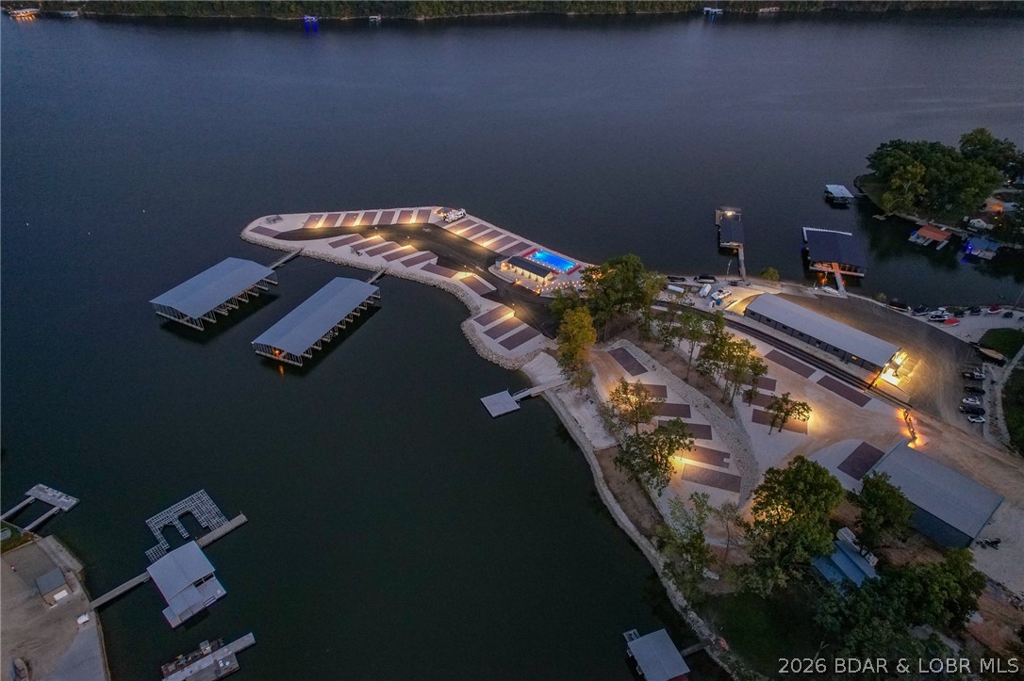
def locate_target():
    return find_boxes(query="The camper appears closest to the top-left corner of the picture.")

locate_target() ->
[446,206,467,222]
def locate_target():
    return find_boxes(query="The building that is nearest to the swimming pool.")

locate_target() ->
[506,256,554,283]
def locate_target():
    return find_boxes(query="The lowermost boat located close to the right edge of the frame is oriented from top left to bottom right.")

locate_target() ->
[984,345,1010,364]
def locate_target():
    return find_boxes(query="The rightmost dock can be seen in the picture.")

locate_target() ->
[966,237,1000,266]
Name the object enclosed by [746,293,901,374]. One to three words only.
building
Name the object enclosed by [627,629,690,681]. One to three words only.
pier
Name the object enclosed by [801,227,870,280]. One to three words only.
pier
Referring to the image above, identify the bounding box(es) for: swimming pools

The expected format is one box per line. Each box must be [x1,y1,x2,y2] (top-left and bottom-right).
[529,247,579,271]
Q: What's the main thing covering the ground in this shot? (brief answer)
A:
water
